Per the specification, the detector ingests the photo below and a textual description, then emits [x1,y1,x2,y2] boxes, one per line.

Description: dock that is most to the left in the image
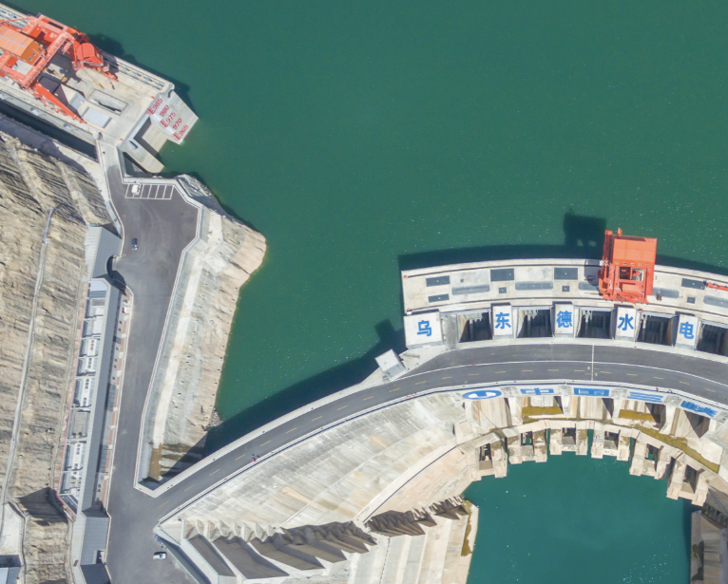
[122,140,160,178]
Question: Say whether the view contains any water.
Yes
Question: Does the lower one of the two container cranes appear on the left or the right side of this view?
right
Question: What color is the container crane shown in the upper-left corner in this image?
red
